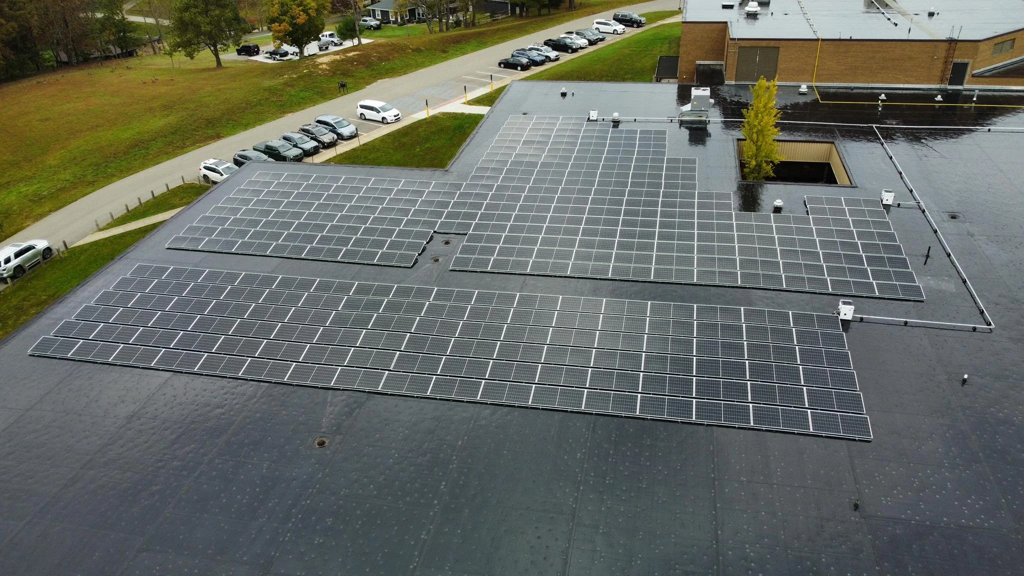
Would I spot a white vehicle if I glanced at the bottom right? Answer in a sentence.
No, no white vehicle can be made out at the bottom right.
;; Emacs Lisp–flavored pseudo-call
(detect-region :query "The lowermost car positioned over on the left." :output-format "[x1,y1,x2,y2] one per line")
[0,240,53,279]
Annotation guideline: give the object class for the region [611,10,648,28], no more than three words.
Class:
car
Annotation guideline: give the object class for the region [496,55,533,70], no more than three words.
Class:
car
